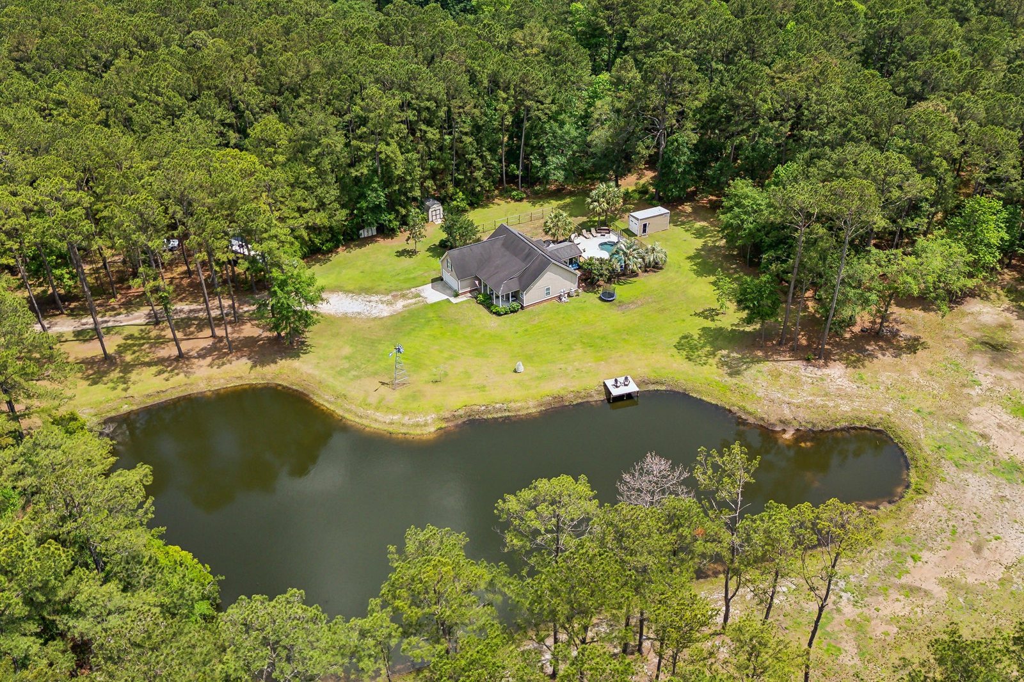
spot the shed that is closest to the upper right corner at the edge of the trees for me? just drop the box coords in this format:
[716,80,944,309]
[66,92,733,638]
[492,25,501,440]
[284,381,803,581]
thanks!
[627,206,671,236]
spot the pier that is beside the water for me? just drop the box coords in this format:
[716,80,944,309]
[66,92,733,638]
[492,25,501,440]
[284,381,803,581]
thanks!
[603,376,640,401]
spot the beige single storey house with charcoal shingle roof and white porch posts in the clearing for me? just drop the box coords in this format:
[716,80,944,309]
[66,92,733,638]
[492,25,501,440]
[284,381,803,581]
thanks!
[438,225,585,309]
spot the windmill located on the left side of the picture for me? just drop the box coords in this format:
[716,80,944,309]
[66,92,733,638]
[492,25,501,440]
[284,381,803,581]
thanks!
[386,344,407,388]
